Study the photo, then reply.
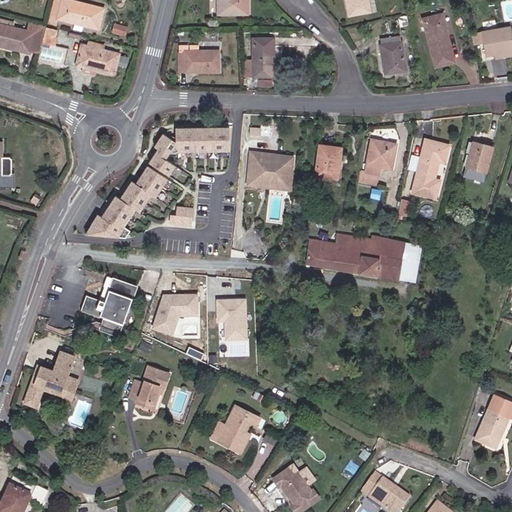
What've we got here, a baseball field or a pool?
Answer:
pool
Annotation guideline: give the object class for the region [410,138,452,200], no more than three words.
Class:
house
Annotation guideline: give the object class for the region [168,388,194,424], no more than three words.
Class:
swimming pool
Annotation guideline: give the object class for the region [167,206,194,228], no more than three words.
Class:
building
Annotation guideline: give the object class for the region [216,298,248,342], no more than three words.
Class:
house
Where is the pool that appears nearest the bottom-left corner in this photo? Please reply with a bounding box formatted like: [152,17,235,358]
[66,397,95,430]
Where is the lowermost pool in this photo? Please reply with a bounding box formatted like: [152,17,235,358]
[164,492,196,512]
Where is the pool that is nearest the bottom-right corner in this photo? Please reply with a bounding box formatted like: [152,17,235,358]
[308,441,326,462]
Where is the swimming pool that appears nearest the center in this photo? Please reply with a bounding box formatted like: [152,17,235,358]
[266,191,288,224]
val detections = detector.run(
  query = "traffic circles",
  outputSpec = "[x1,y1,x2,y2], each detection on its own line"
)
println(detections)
[76,111,136,170]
